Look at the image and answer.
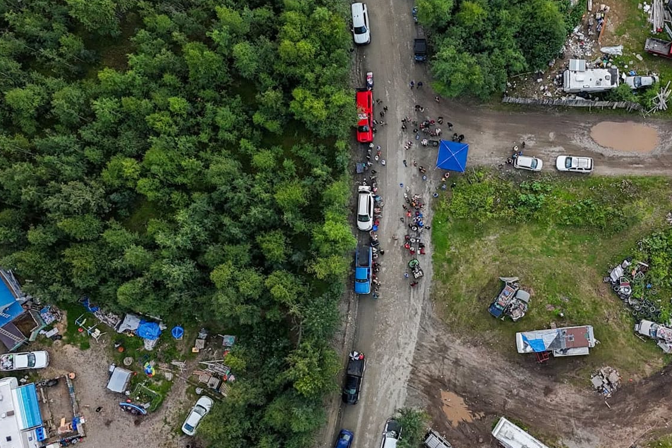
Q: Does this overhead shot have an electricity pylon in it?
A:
No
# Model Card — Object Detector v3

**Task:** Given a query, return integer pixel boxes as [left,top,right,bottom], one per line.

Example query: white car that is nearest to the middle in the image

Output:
[355,189,375,230]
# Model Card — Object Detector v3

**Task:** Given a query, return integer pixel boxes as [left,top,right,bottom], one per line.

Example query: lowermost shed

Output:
[107,367,137,393]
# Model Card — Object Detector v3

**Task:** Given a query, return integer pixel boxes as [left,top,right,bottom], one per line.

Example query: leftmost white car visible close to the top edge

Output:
[351,3,372,47]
